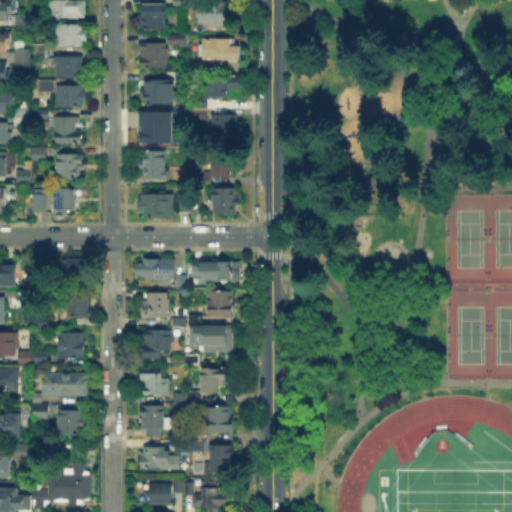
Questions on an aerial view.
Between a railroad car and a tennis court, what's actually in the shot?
tennis court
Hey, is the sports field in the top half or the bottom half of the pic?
bottom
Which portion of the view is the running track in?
bottom right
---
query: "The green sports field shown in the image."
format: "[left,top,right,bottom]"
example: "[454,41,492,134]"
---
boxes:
[360,421,512,512]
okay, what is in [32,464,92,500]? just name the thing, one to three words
house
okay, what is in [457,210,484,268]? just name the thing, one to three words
tennis court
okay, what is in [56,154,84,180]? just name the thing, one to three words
house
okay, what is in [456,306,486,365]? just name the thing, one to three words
tennis court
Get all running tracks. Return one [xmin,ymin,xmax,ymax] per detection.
[338,394,512,512]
